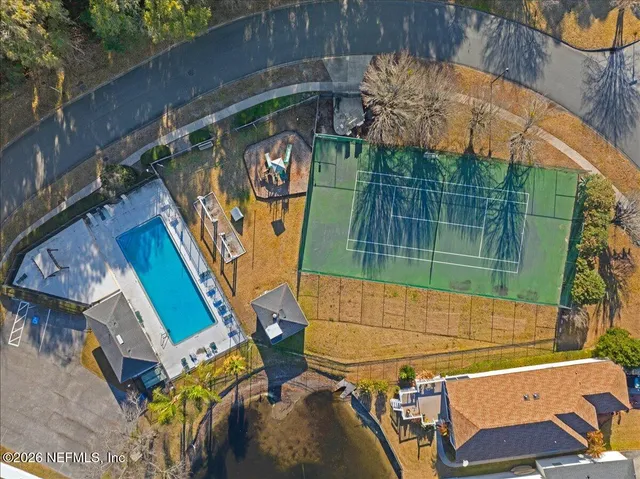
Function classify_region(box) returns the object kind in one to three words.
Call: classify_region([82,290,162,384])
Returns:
building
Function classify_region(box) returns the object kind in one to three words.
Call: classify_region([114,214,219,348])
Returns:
swimming pool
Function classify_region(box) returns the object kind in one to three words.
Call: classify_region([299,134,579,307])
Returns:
tennis court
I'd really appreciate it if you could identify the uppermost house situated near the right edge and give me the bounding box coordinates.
[444,358,629,464]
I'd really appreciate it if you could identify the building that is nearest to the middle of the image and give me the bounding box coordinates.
[251,283,309,345]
